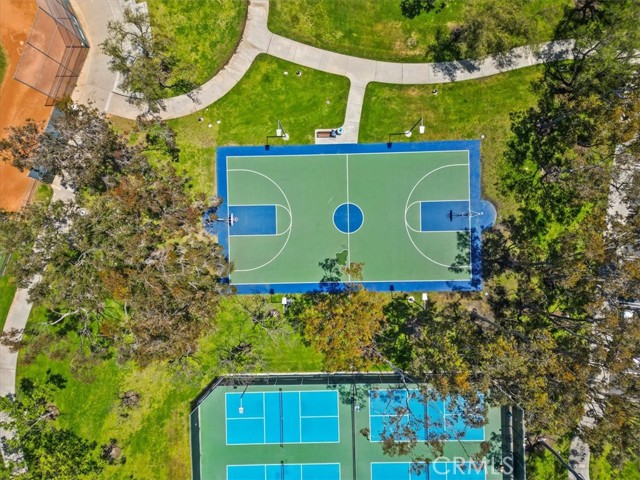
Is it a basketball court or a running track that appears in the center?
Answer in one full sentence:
Visible in the center is a basketball court.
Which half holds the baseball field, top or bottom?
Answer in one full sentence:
The top half of the photo is where the baseball field is.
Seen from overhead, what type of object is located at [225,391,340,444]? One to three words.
sports court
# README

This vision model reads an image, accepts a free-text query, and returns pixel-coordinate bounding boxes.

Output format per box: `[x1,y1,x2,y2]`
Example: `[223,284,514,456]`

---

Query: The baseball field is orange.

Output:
[0,0,91,213]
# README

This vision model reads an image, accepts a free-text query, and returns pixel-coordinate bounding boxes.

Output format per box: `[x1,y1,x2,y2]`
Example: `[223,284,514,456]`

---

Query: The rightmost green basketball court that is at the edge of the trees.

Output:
[202,141,498,295]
